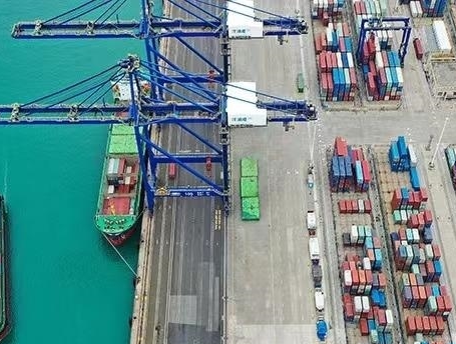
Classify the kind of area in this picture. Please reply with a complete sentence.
This image shows a port.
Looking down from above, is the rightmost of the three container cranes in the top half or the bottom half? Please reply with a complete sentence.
It is in the top half that the rightmost of the three container cranes appears.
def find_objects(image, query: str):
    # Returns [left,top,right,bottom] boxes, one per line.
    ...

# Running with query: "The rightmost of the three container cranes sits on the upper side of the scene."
[355,17,413,67]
